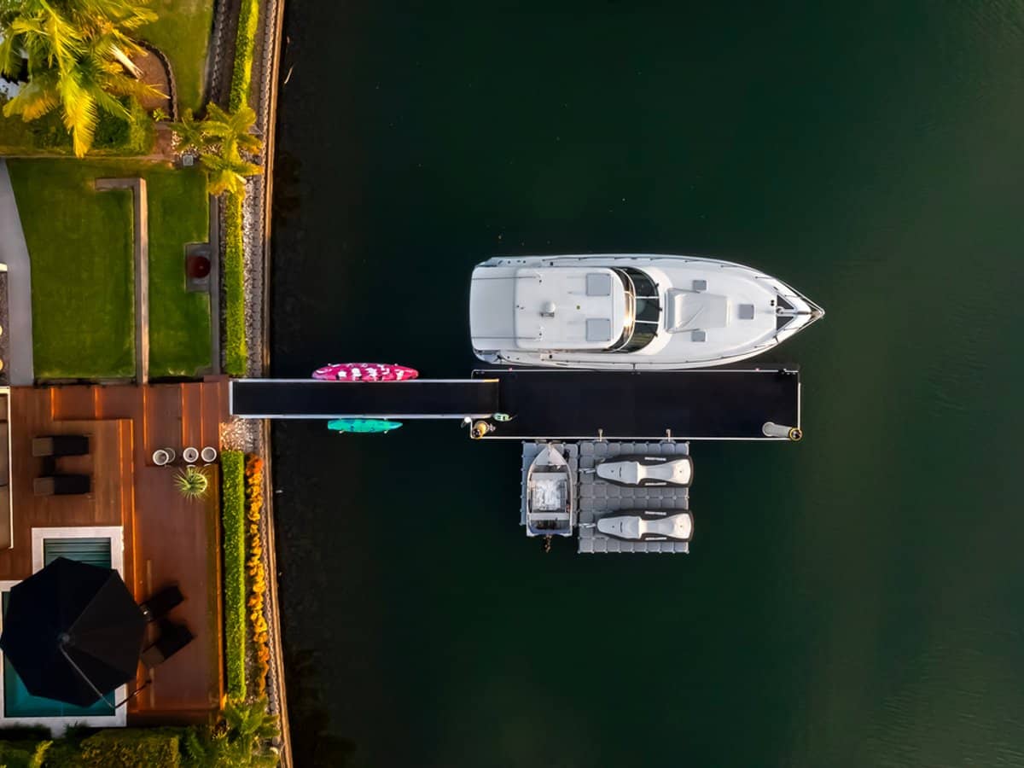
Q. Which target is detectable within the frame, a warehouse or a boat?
boat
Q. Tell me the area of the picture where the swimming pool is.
bottom left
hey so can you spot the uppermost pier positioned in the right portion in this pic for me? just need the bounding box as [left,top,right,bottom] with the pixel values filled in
[471,368,801,440]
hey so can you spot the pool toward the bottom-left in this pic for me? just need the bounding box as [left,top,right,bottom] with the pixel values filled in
[0,525,134,739]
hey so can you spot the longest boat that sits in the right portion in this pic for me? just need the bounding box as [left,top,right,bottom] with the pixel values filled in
[470,253,825,370]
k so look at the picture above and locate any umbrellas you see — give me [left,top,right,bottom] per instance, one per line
[2,557,153,710]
